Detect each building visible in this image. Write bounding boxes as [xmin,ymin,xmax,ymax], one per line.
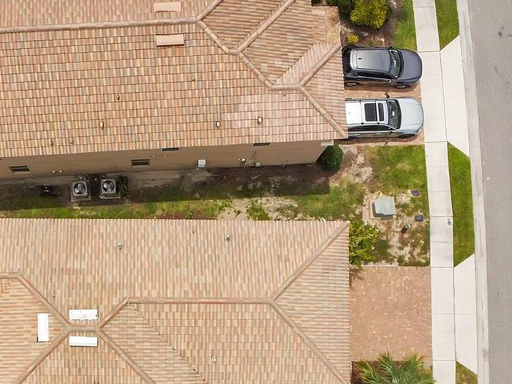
[0,0,351,181]
[0,217,352,384]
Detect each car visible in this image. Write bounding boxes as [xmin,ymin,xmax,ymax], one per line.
[343,42,421,89]
[349,94,423,141]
